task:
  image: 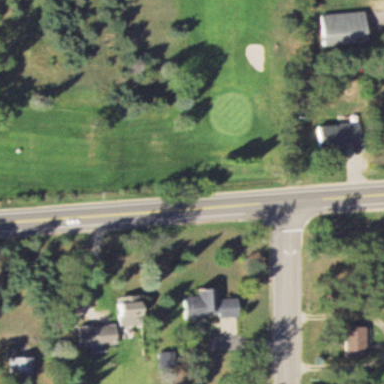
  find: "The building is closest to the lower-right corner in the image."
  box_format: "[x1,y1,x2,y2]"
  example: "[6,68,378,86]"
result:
[346,326,368,352]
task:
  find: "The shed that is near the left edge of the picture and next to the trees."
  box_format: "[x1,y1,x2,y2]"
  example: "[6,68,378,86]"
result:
[10,356,36,372]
